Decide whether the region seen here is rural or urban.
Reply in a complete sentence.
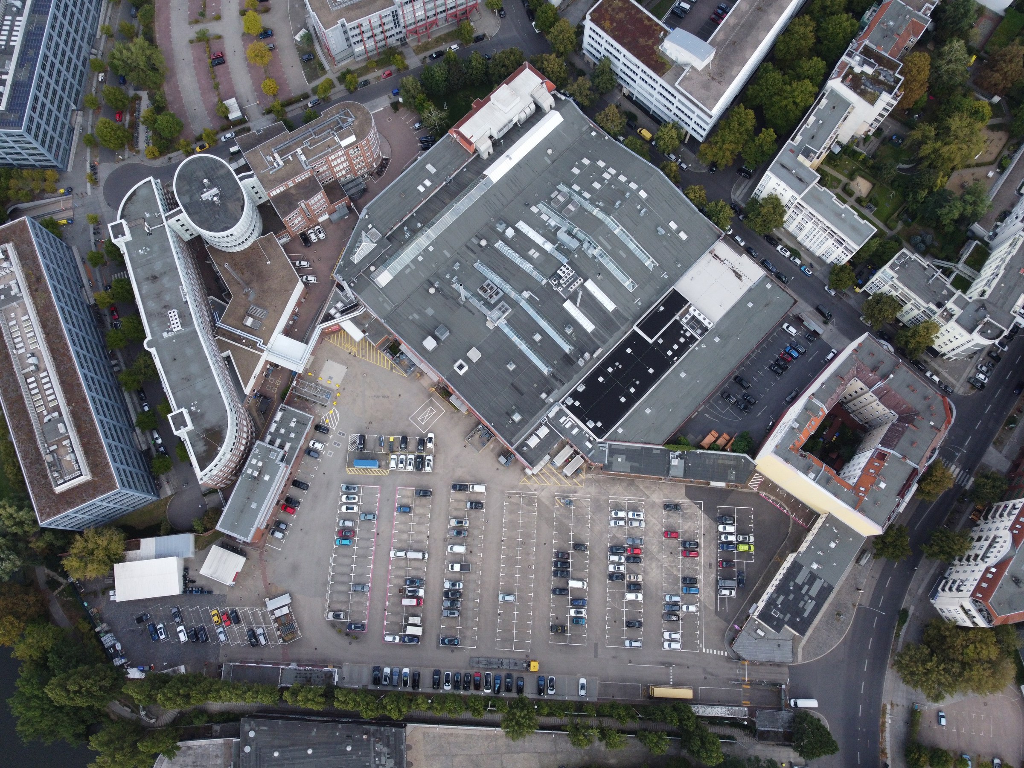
From above, the setting appears urban.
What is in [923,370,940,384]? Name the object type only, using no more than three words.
car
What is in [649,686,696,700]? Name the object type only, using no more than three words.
vehicle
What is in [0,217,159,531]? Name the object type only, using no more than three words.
building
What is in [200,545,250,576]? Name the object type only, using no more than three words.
tent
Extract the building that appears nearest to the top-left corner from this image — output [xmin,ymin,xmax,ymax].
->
[0,0,100,172]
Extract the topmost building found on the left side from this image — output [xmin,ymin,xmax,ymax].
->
[307,0,481,72]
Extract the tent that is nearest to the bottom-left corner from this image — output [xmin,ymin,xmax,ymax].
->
[114,561,185,601]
